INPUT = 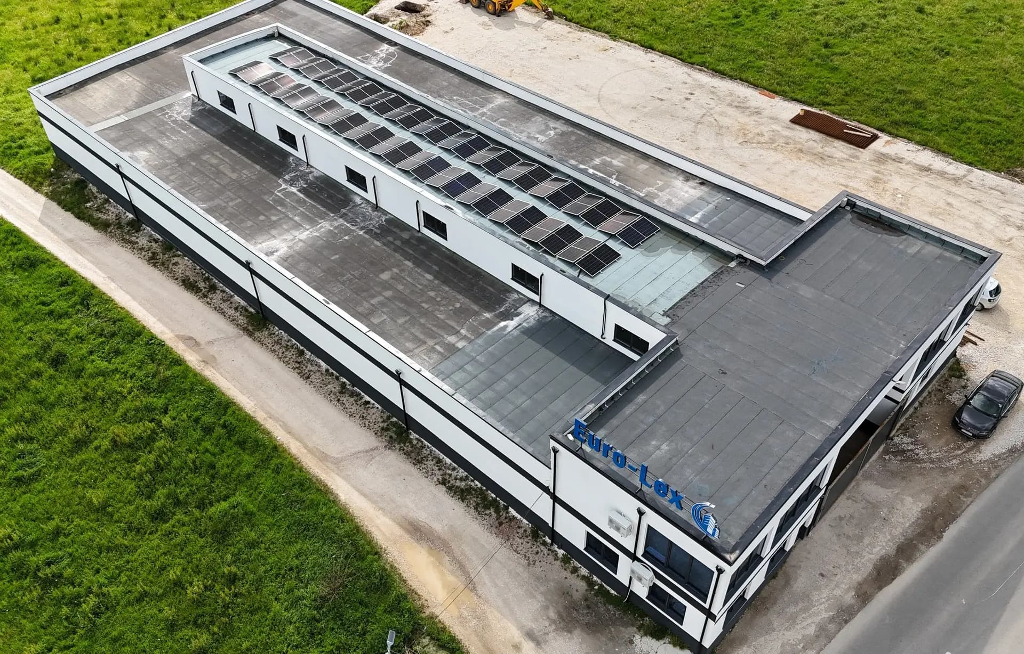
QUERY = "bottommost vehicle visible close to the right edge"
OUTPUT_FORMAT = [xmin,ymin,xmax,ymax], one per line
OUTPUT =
[955,371,1023,443]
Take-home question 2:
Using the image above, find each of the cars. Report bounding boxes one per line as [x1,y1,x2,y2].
[955,371,1023,443]
[975,277,1003,311]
